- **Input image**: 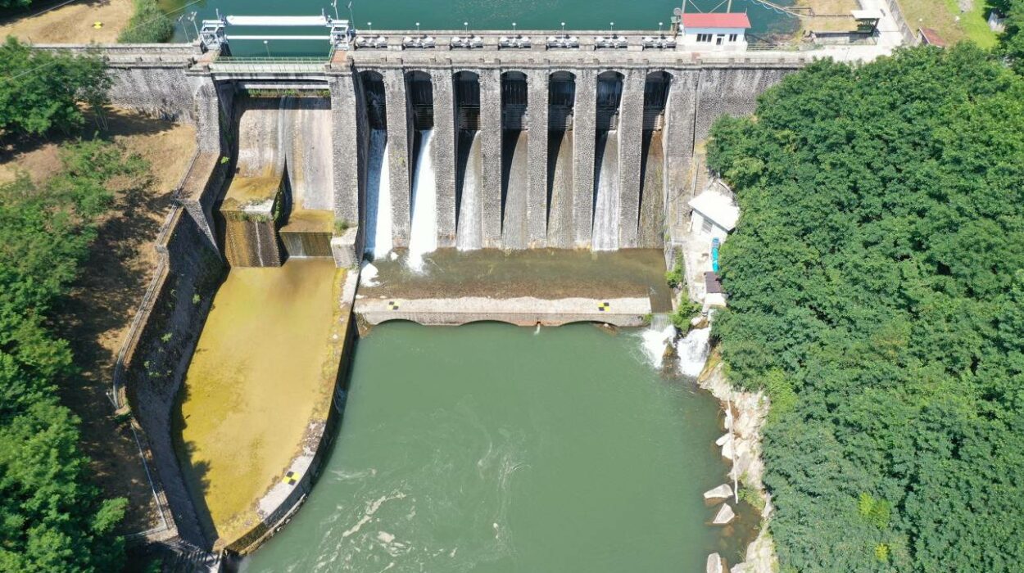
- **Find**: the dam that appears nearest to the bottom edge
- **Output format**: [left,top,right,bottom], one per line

[354,295,652,326]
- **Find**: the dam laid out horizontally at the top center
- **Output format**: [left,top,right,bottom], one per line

[0,30,1024,264]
